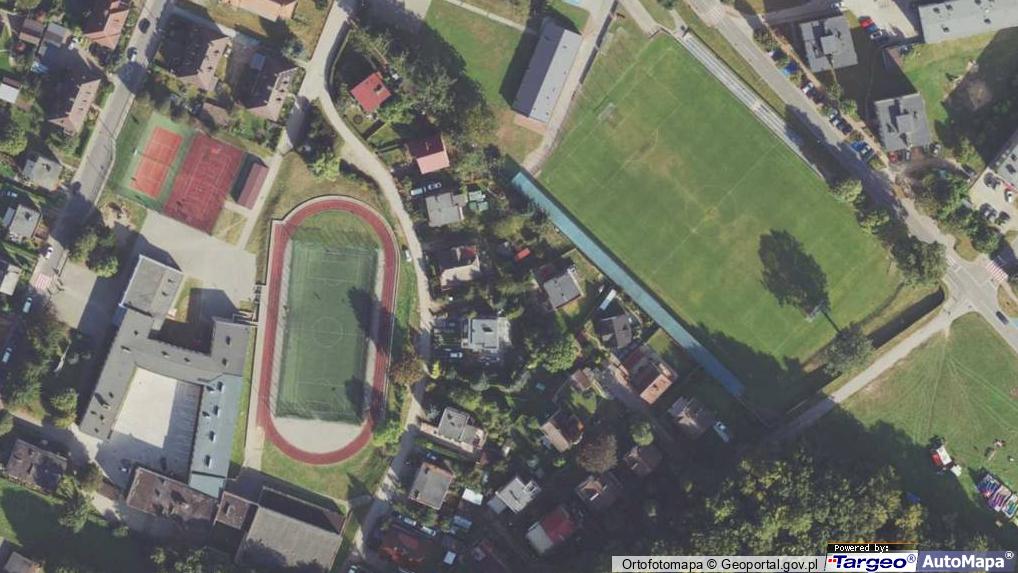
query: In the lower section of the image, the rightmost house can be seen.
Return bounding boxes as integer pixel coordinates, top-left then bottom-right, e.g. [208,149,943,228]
[672,397,715,437]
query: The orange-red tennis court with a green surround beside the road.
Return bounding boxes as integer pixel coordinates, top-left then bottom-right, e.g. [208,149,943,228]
[112,110,196,211]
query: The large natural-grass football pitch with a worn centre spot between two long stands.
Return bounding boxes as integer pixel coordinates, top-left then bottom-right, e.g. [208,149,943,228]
[531,40,902,390]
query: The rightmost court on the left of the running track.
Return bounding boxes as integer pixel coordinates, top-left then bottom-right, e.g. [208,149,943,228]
[163,129,245,235]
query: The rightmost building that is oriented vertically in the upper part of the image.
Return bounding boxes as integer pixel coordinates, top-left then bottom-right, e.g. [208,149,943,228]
[987,124,1018,191]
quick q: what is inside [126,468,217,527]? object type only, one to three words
building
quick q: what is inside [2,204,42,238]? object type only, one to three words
house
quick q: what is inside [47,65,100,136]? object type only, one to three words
house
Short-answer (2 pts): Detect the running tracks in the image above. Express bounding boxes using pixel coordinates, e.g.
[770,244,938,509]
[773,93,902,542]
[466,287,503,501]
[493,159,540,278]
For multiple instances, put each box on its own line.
[254,196,400,466]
